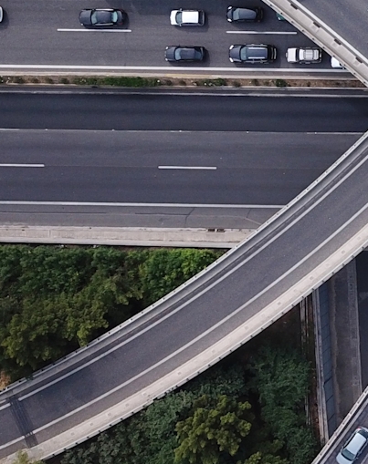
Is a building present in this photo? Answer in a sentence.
No, I can see no building in this picture.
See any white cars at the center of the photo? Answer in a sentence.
No, looking at the center of the photo, there is no white car.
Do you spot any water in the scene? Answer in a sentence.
No, there is no water in the image.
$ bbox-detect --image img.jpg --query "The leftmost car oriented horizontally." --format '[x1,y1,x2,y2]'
[80,6,128,27]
